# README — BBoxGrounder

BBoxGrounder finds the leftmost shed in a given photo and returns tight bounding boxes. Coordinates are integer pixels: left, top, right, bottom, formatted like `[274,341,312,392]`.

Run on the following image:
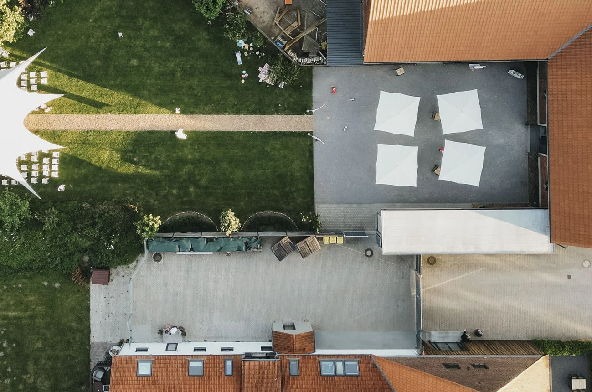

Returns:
[91,266,111,284]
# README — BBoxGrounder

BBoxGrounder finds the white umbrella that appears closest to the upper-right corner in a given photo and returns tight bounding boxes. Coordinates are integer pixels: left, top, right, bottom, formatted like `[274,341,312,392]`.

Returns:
[436,89,483,135]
